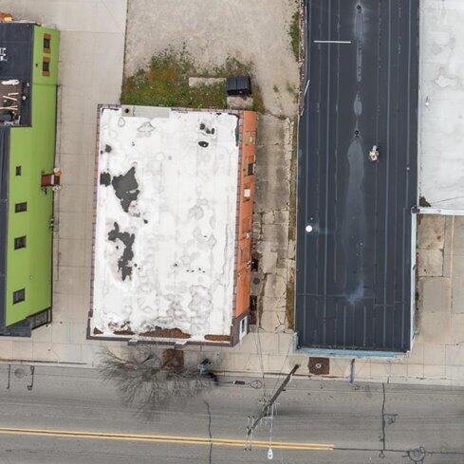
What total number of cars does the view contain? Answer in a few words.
zero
